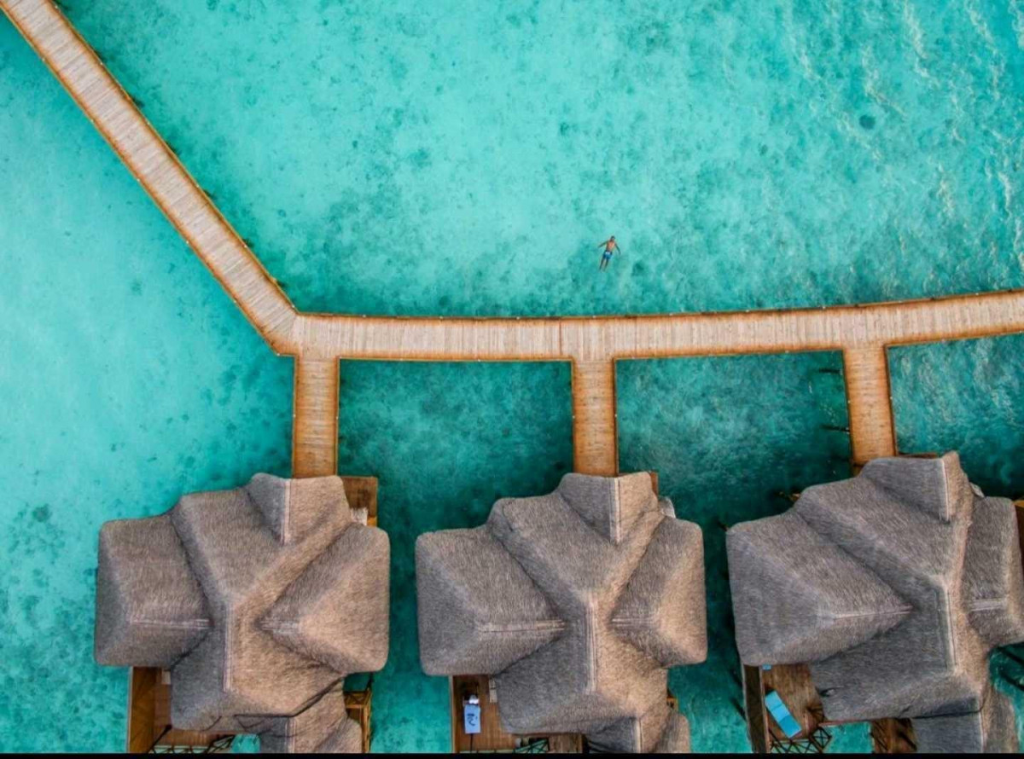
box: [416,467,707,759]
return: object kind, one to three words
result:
house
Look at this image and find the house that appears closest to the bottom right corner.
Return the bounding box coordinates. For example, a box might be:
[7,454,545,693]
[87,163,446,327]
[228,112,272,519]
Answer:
[710,450,1024,759]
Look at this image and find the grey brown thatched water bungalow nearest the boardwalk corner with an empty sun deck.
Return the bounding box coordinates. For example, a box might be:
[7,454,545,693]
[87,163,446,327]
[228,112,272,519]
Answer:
[95,470,391,759]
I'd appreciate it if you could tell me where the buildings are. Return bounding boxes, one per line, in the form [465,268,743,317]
[710,450,1024,759]
[95,470,391,759]
[416,467,707,759]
